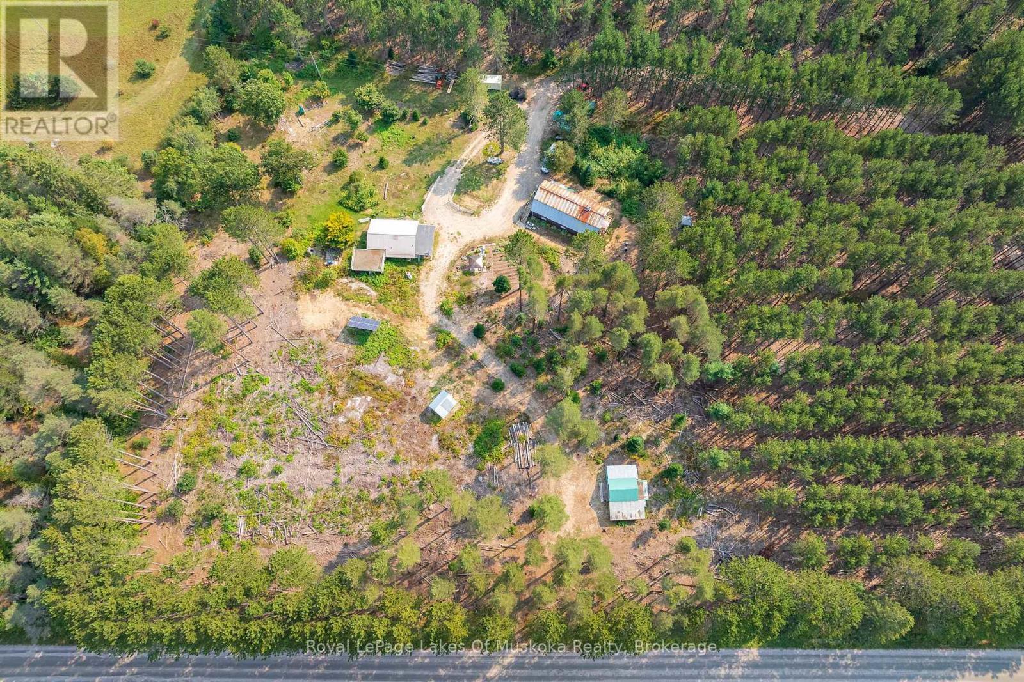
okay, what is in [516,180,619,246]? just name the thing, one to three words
barn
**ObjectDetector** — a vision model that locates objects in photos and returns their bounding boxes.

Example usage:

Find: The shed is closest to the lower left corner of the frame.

[429,391,457,420]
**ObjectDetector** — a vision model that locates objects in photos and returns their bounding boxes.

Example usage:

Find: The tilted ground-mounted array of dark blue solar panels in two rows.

[347,316,380,334]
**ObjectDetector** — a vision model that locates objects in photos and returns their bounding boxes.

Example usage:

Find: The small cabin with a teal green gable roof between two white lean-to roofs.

[605,465,647,522]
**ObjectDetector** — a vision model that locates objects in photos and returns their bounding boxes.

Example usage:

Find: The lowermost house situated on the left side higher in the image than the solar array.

[350,219,435,276]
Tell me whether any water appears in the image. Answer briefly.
No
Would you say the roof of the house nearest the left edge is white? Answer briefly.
Yes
